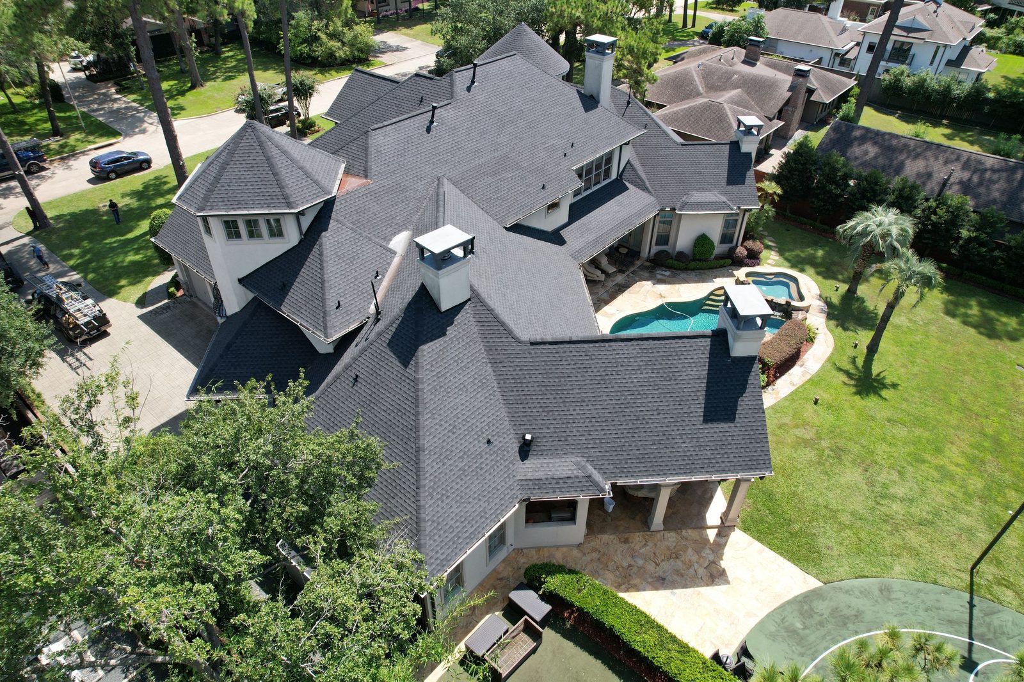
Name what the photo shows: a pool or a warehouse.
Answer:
pool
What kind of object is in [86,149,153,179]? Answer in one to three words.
car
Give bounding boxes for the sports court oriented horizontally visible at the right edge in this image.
[724,578,1024,682]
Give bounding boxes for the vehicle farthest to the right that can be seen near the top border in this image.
[692,21,719,39]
